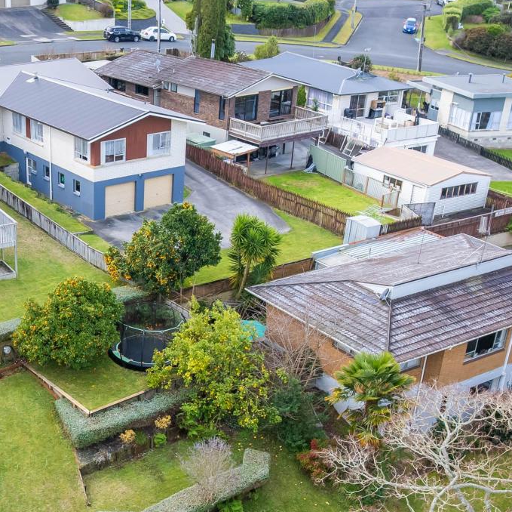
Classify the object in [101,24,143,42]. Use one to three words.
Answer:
car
